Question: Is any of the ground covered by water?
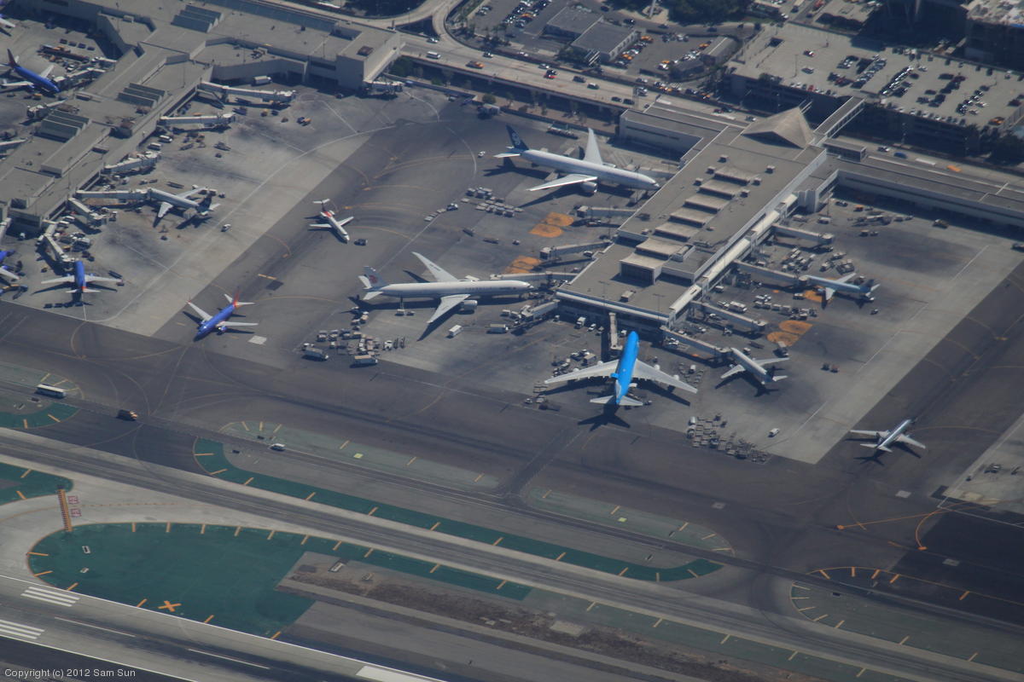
No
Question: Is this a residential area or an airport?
airport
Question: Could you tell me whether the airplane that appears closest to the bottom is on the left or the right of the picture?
right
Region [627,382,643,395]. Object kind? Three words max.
vehicle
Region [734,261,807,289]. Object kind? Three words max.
jet bridge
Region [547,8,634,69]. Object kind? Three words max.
building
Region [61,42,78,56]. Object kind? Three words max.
vehicle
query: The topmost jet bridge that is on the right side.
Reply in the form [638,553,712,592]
[633,166,679,180]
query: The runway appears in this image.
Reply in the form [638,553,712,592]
[0,576,439,682]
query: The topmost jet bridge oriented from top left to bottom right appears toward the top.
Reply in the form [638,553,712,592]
[66,196,104,226]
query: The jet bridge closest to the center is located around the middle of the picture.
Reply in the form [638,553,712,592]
[516,299,562,328]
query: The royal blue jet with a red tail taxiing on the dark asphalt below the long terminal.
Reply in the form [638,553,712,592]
[188,292,260,342]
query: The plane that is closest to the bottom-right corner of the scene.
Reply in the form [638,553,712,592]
[852,418,928,453]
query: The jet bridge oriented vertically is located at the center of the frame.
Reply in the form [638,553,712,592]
[607,312,621,361]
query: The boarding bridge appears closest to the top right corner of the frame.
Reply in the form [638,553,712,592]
[772,225,833,247]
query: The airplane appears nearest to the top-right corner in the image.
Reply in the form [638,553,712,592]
[807,268,881,302]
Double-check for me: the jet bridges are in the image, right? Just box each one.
[607,312,621,361]
[199,80,297,107]
[66,196,104,226]
[574,207,640,226]
[538,240,614,267]
[361,81,404,100]
[73,187,155,205]
[692,302,766,333]
[0,218,13,252]
[516,299,562,328]
[50,67,101,92]
[103,151,165,180]
[495,271,581,287]
[88,55,111,68]
[40,217,72,271]
[734,261,807,289]
[159,113,240,131]
[24,97,67,122]
[772,225,833,247]
[656,324,731,361]
[633,166,679,180]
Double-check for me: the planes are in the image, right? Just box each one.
[852,418,928,453]
[188,292,260,342]
[0,48,59,94]
[544,333,699,410]
[152,187,217,216]
[718,348,791,384]
[807,268,881,302]
[360,252,535,322]
[491,128,659,195]
[41,260,123,293]
[309,202,352,243]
